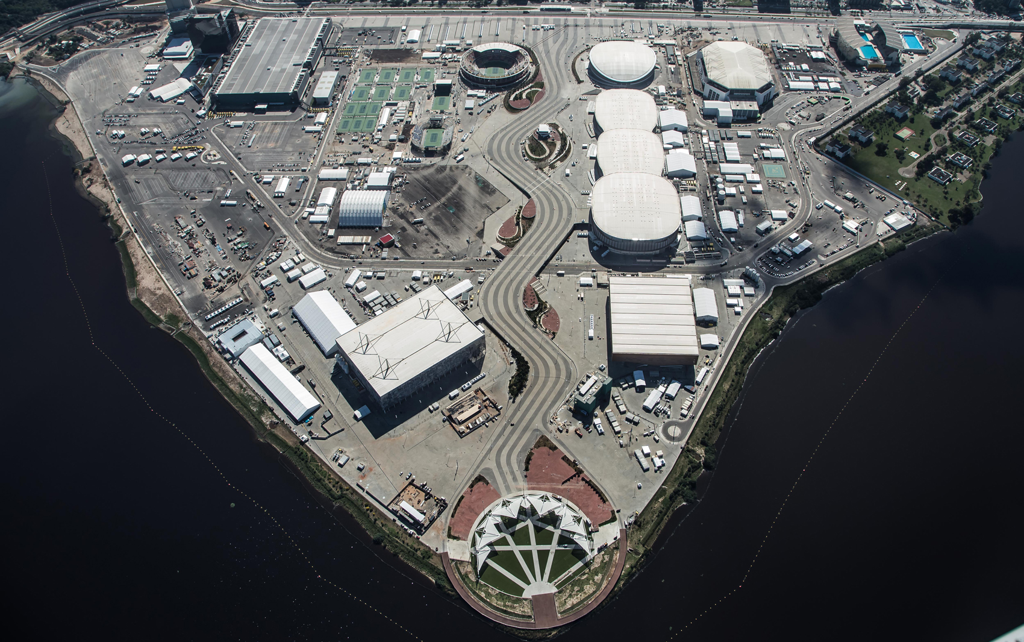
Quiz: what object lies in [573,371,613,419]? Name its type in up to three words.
building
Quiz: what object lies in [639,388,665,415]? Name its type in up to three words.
tent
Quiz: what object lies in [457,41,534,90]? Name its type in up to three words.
stadium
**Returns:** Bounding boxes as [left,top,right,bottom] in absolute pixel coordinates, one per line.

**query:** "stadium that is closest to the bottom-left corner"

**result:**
[336,283,485,410]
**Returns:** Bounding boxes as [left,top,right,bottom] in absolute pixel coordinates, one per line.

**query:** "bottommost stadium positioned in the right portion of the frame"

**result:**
[596,273,698,365]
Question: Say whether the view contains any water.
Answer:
Yes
